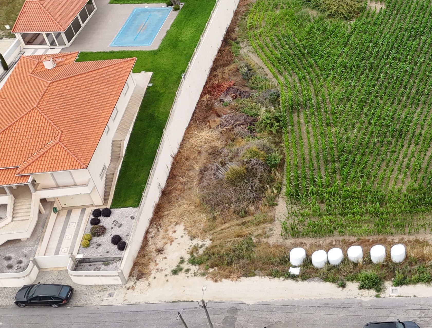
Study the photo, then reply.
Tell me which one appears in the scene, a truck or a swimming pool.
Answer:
swimming pool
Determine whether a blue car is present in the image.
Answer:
No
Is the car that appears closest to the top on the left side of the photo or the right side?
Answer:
left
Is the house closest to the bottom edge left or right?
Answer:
left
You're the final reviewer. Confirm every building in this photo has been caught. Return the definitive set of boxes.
[0,49,153,242]
[6,0,96,46]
